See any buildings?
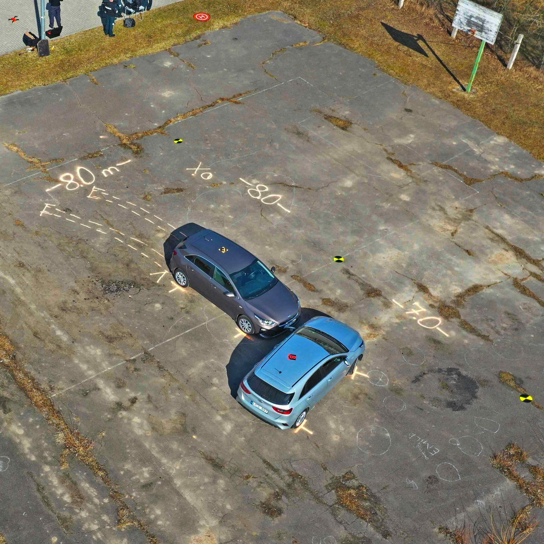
No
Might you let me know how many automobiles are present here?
2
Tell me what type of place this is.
sports ground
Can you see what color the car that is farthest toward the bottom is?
blue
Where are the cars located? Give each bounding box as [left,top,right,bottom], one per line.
[170,230,304,336]
[235,318,364,430]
